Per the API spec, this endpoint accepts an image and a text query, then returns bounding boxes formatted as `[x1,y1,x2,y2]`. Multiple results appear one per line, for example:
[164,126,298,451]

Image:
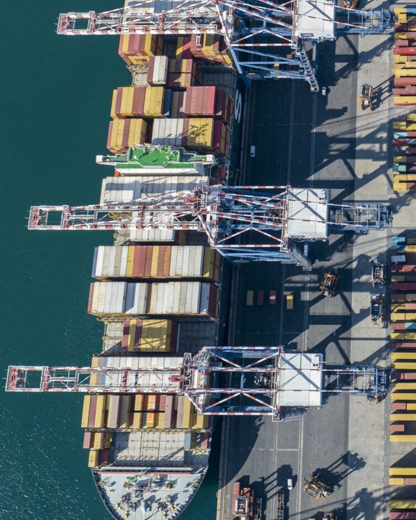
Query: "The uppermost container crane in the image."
[54,0,391,95]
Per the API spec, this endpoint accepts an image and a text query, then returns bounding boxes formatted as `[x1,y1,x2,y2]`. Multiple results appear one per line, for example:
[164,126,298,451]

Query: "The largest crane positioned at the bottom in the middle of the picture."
[3,341,385,422]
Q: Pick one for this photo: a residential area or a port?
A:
port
